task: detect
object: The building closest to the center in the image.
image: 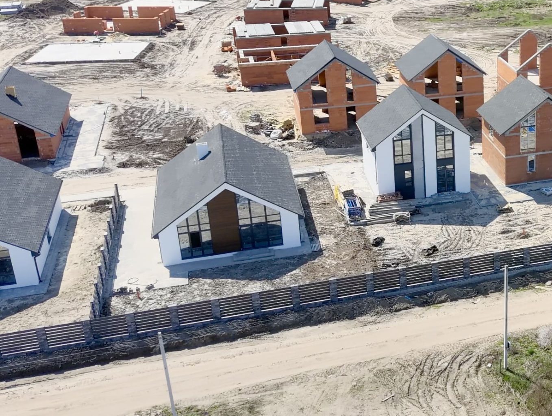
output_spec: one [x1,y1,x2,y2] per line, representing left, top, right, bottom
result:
[147,122,317,277]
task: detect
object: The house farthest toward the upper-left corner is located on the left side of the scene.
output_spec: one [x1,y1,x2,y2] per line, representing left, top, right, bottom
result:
[0,66,72,162]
